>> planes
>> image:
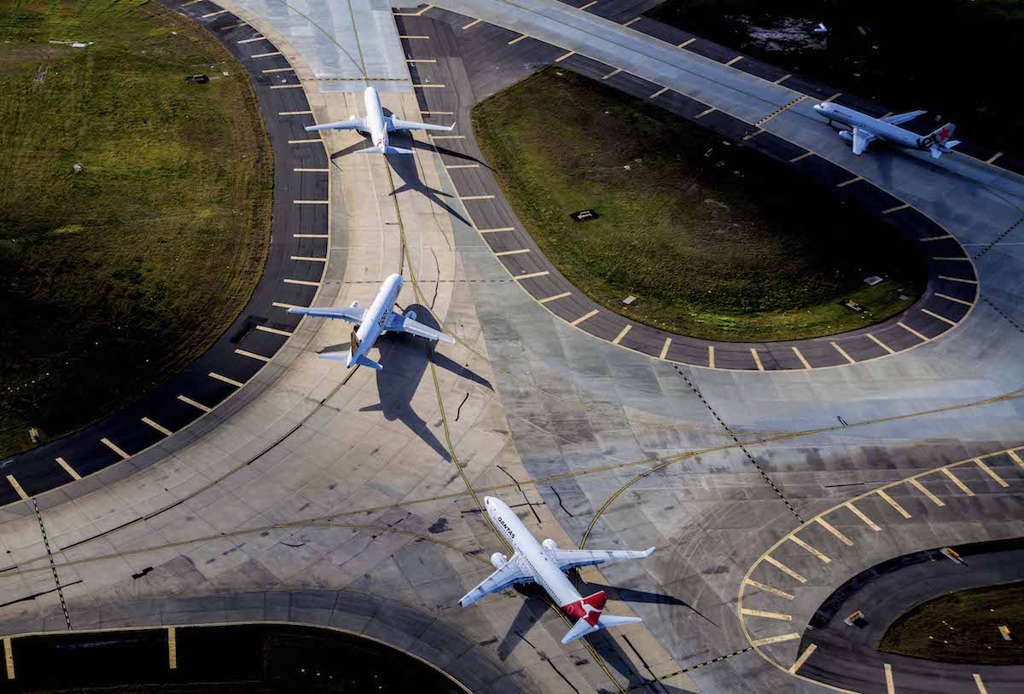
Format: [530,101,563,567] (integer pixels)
[302,86,456,154]
[815,103,960,157]
[286,274,457,368]
[455,499,654,641]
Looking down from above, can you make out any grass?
Yes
